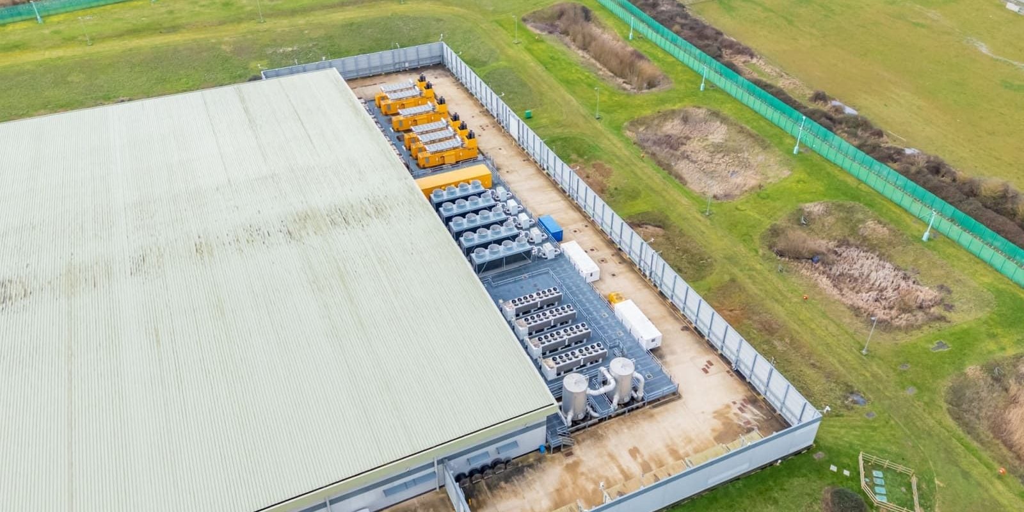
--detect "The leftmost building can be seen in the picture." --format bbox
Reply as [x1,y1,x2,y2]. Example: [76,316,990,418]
[0,66,562,512]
